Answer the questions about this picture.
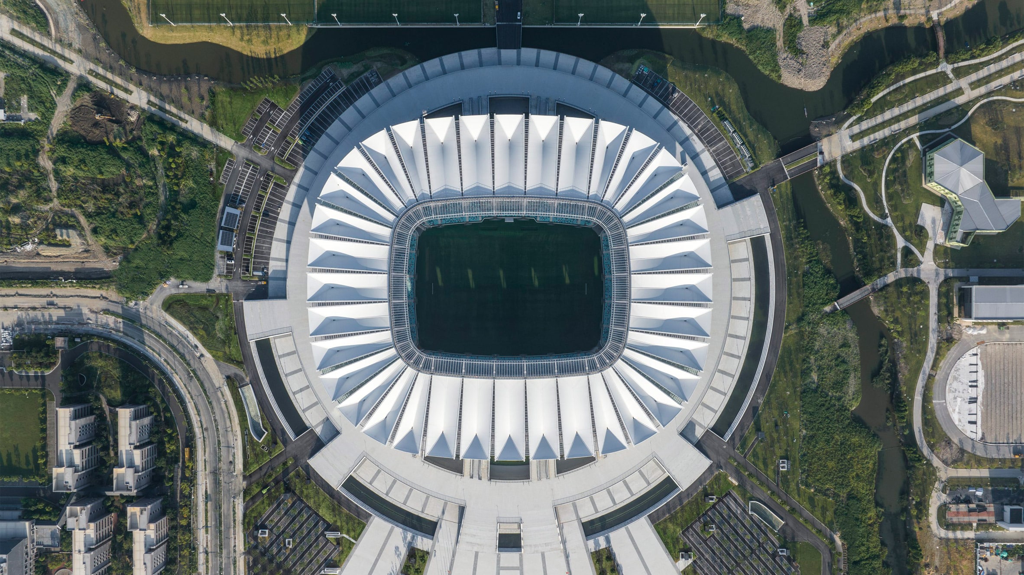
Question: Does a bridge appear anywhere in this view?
Yes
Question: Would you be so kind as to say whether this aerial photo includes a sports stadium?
Yes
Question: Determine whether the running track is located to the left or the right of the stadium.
right of it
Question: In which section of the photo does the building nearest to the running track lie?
right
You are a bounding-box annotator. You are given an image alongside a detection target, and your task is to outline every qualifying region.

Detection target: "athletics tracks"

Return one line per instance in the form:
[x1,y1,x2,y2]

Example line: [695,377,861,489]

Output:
[933,329,1024,458]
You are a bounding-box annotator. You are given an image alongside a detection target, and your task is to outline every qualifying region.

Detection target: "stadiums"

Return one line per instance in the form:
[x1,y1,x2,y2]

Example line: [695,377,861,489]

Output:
[306,112,714,463]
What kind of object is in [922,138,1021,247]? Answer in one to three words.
building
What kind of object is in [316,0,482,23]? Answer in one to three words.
sports field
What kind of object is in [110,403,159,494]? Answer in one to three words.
building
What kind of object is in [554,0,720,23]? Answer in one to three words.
sports field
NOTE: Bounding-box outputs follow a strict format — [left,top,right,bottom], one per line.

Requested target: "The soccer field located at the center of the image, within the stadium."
[415,217,605,358]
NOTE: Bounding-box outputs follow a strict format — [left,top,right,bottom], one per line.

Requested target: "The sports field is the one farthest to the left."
[146,0,315,23]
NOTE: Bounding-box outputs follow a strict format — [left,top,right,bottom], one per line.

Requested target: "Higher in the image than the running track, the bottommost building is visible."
[956,286,1024,322]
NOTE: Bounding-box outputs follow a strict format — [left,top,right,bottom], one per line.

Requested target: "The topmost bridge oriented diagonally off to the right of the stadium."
[768,142,818,189]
